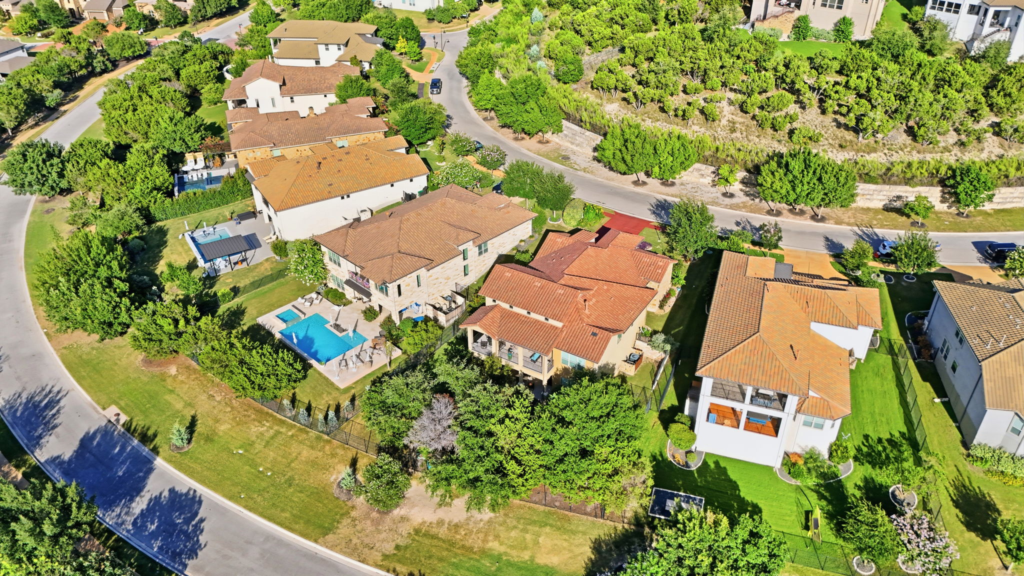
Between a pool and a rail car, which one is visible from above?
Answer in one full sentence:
Of the two, only a pool appears.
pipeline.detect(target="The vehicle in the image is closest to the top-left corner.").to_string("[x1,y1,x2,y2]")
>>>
[429,79,443,93]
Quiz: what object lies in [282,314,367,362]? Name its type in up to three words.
swimming pool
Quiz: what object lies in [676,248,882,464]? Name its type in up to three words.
house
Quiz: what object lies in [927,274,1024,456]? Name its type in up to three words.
house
